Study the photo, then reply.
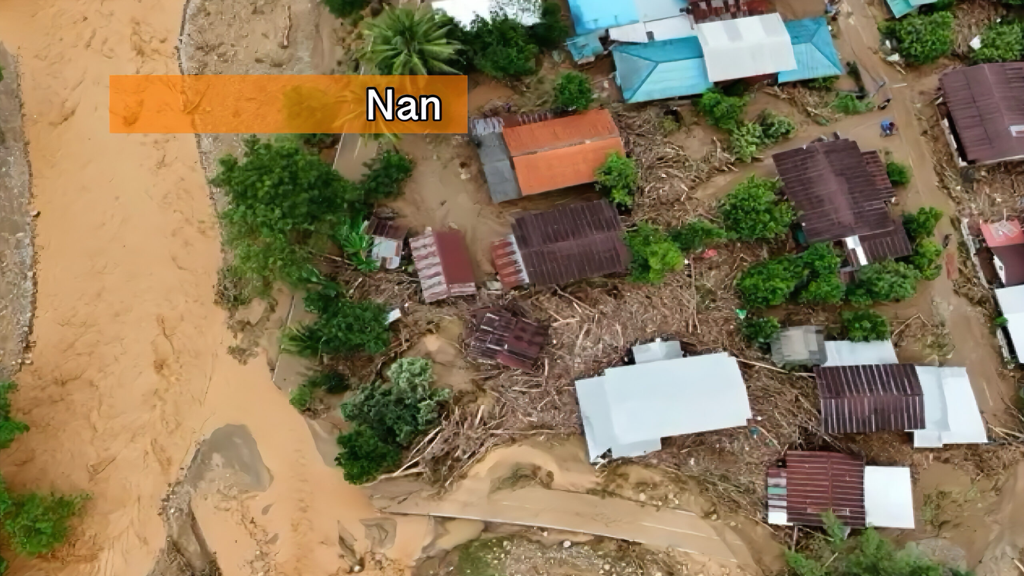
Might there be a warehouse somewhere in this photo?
No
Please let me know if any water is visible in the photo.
Yes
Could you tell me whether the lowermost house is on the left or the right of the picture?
right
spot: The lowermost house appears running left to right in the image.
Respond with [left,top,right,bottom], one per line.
[762,452,915,529]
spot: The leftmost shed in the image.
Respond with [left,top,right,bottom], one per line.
[362,218,407,272]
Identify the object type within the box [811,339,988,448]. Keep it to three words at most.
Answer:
house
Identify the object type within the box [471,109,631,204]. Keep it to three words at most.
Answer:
house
